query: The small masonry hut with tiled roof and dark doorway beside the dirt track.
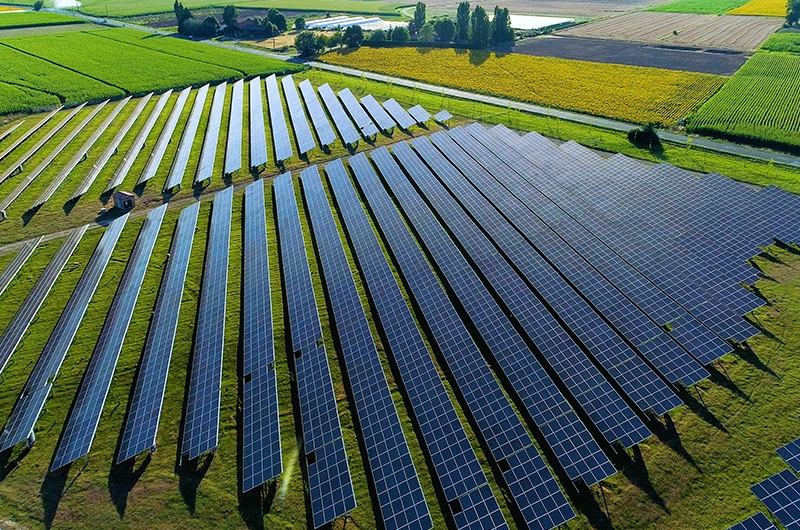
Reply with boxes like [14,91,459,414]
[109,188,136,209]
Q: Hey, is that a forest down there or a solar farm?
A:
solar farm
